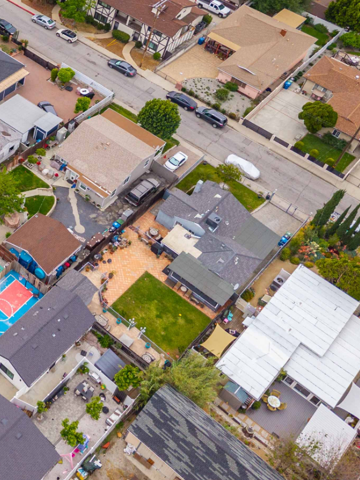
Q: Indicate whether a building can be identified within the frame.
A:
Yes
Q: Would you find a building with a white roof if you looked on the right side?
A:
Yes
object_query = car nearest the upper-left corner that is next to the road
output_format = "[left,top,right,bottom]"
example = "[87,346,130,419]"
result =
[0,18,18,36]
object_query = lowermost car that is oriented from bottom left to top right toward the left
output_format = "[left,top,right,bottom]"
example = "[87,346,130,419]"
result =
[123,175,163,207]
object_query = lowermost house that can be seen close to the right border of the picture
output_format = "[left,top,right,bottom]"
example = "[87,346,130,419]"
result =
[218,266,360,415]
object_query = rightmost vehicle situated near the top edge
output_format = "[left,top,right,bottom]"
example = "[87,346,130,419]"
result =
[195,0,232,18]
